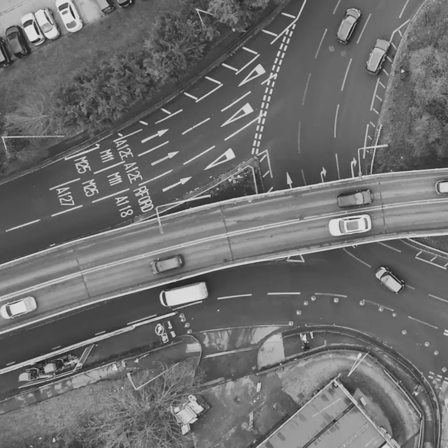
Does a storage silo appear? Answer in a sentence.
No, there appears to be no storage silo in this shot.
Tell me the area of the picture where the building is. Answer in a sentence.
You can find the building in the bottom right area of the picture.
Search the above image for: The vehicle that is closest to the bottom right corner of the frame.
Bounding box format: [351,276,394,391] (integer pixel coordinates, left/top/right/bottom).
[374,264,406,296]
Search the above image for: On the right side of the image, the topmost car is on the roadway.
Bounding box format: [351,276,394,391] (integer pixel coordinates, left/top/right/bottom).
[335,8,362,45]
